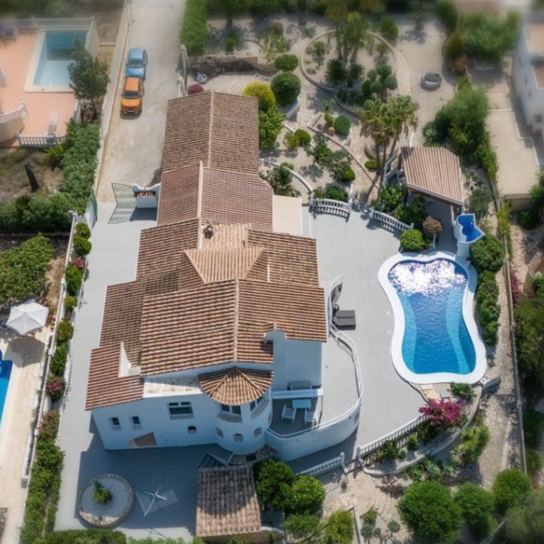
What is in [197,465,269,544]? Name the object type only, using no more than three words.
building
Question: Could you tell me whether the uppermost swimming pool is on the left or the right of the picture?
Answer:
left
